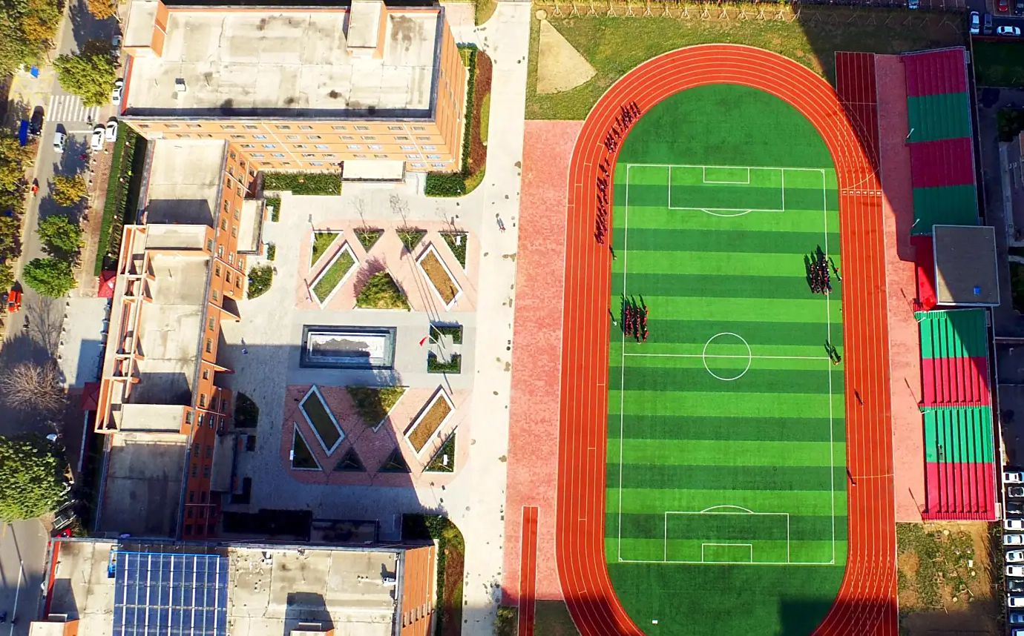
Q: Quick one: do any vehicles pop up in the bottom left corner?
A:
Yes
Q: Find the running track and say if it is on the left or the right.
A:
right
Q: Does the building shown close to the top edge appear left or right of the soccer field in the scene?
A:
on its left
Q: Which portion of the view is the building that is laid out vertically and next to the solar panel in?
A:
left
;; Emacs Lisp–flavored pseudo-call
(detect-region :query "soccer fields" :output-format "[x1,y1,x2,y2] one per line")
[606,85,848,636]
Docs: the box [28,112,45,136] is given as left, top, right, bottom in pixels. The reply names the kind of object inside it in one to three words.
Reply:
car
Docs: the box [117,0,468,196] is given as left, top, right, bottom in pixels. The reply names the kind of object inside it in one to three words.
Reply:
building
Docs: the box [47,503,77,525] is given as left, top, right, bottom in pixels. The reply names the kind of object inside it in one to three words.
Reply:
truck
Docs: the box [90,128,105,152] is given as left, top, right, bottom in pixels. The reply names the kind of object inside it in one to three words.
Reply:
car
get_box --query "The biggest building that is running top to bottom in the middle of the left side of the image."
[92,138,279,541]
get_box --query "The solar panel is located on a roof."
[109,548,235,636]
